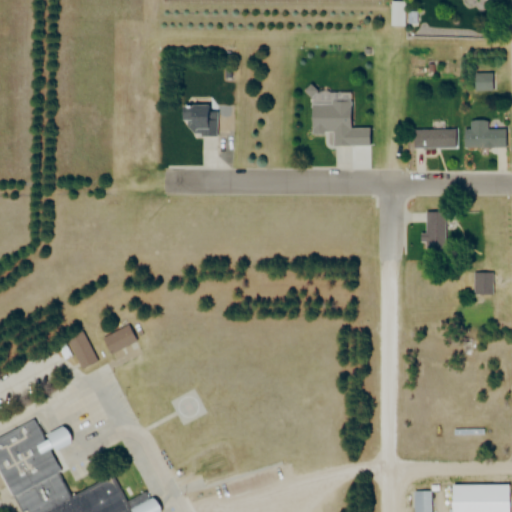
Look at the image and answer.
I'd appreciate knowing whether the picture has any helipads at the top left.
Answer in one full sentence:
No, no helipad can be made out at the top left.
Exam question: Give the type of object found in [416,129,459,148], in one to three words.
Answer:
house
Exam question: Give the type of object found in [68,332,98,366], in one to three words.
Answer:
building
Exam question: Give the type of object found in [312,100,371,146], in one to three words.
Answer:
house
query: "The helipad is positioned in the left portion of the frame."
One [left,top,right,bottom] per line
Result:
[172,390,208,425]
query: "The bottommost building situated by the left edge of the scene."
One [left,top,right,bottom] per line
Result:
[0,418,160,512]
